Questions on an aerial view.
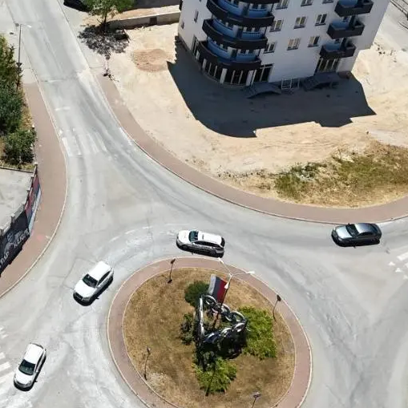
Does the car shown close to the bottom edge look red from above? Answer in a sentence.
No, the color of the car shown close to the bottom edge is white.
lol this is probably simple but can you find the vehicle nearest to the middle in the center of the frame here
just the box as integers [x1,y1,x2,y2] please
[176,229,227,258]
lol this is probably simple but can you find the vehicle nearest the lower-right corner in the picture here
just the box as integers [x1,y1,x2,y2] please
[330,221,387,246]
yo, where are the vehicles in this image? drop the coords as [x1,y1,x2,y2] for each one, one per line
[330,221,387,246]
[64,0,95,9]
[176,229,227,258]
[74,259,115,303]
[12,339,49,391]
